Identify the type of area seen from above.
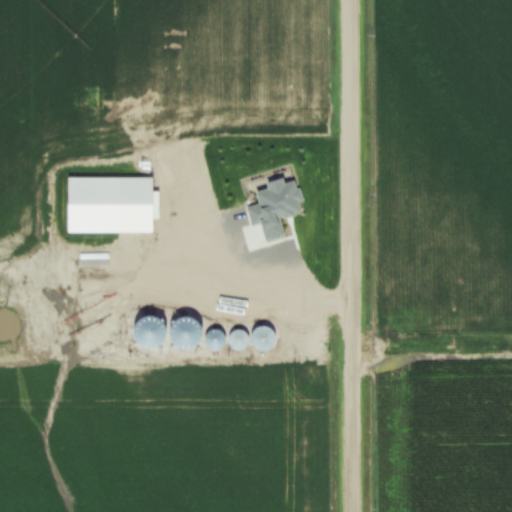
farmland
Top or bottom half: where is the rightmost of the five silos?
bottom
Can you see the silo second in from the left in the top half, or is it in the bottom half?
bottom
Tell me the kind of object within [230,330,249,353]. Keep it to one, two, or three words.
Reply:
silo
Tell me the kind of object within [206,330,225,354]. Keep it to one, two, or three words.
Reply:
silo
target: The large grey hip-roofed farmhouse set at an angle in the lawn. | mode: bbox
[248,178,305,242]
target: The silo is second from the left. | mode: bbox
[170,317,202,354]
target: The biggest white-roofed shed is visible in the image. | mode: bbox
[68,176,160,234]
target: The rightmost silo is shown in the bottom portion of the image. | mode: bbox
[252,326,276,354]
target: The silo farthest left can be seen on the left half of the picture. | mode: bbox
[134,316,166,353]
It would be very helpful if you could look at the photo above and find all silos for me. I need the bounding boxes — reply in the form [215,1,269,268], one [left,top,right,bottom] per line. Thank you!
[134,316,166,353]
[252,326,276,354]
[230,330,249,353]
[206,330,225,354]
[170,317,202,354]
